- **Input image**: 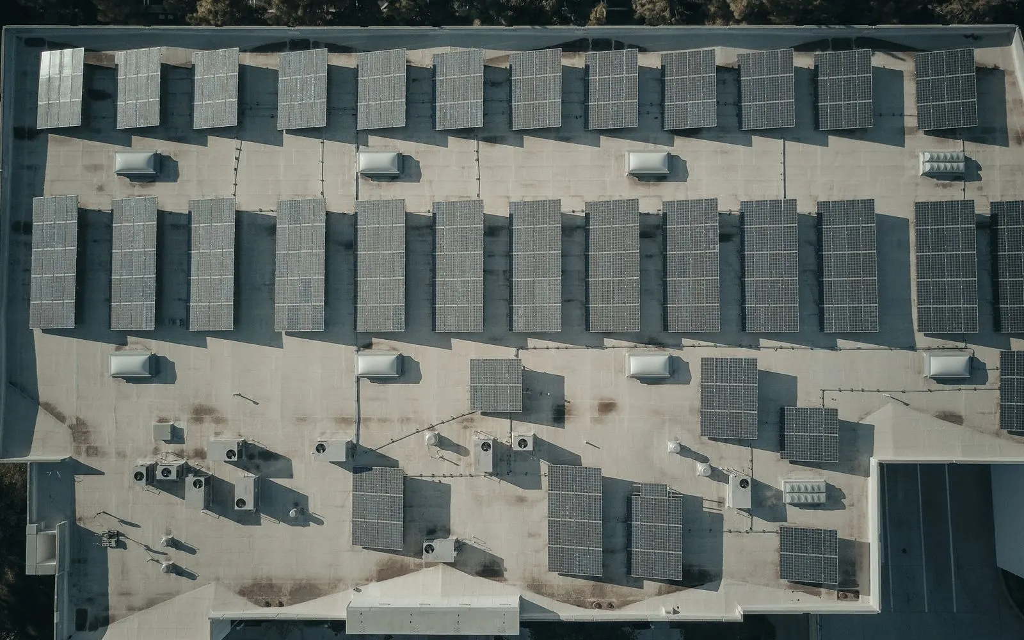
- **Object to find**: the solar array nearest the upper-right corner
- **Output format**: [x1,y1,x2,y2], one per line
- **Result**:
[916,48,978,131]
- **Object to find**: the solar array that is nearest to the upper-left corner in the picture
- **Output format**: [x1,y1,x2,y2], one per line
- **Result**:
[38,46,87,129]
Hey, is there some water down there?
No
